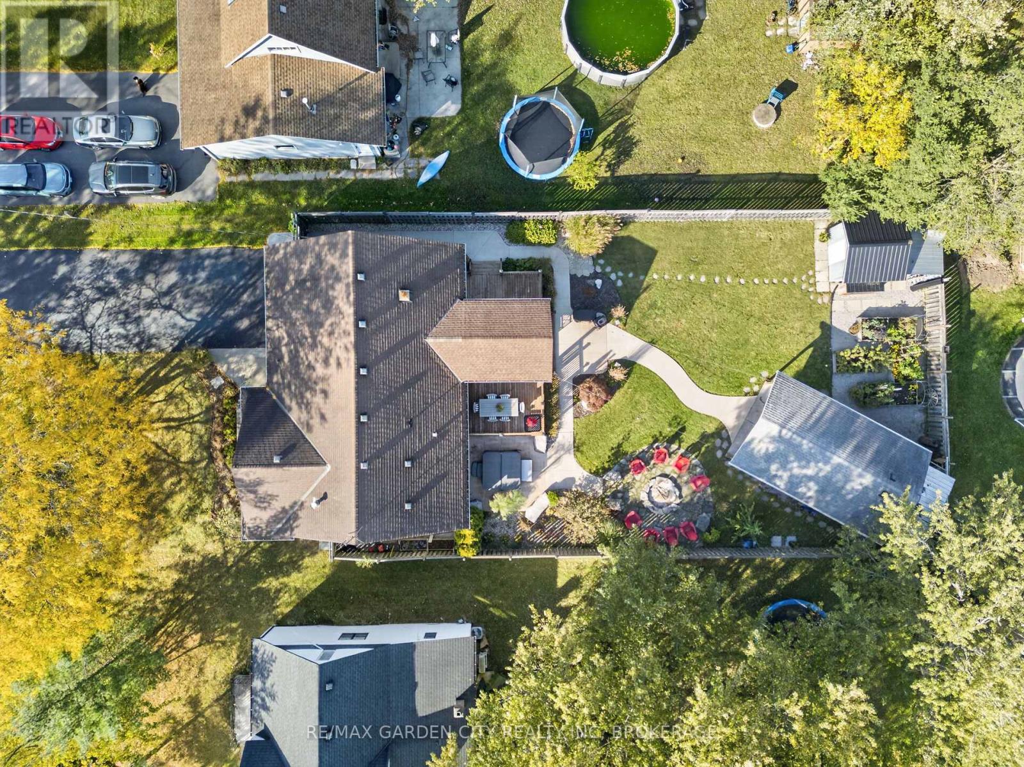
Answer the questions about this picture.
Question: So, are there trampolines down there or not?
Yes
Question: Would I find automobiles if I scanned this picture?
Yes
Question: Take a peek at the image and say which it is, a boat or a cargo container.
boat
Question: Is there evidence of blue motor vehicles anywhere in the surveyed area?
Yes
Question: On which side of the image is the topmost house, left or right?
left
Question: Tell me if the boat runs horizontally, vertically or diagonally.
diagonally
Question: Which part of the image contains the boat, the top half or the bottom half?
top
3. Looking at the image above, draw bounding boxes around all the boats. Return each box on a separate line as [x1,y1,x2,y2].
[416,150,450,187]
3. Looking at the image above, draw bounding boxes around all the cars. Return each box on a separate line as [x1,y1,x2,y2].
[88,157,179,201]
[0,157,72,200]
[0,110,65,152]
[71,108,163,152]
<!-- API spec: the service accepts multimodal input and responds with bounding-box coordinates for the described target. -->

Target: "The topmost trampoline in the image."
[497,83,587,182]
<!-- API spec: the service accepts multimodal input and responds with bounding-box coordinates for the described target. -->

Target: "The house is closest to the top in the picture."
[175,0,389,160]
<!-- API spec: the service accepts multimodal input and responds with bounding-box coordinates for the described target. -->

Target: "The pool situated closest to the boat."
[559,0,680,87]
